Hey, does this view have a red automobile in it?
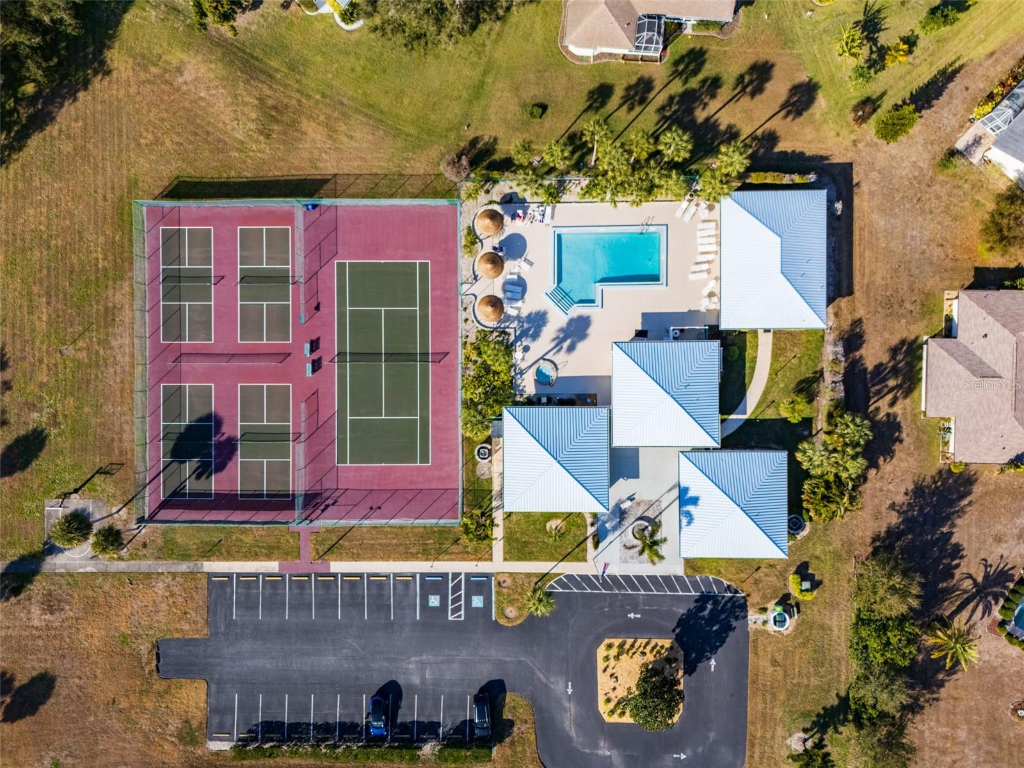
No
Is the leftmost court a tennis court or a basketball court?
basketball court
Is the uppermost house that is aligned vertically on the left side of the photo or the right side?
right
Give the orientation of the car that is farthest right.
vertically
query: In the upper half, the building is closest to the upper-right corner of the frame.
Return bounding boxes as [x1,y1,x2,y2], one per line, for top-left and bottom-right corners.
[978,77,1024,186]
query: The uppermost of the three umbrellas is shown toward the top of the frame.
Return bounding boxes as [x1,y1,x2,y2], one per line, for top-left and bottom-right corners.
[474,207,505,238]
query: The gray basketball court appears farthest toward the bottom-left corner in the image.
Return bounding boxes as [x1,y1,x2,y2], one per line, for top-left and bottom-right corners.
[45,500,106,561]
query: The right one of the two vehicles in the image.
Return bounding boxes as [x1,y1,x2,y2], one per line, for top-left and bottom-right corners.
[474,693,494,736]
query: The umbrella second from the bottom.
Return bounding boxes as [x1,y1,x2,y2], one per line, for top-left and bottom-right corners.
[475,251,506,281]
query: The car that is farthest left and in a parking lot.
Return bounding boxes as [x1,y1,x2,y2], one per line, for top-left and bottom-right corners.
[369,695,388,734]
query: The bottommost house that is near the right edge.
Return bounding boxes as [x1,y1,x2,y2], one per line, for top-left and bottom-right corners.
[923,290,1024,463]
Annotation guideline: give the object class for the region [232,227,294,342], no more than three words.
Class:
sports court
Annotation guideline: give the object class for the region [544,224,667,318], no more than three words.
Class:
swimming pool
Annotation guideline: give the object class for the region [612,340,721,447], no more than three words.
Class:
building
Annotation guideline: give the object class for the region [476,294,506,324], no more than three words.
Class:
umbrella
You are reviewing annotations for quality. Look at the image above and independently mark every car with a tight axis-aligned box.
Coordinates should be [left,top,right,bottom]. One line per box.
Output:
[474,693,494,736]
[369,695,388,734]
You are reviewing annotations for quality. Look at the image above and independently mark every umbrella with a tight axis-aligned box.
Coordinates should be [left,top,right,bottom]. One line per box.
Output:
[475,251,506,281]
[474,207,505,238]
[476,294,506,324]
